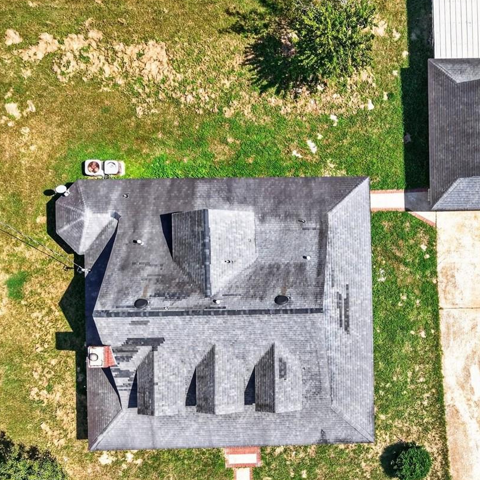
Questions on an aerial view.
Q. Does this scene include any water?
No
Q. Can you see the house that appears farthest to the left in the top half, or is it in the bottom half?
bottom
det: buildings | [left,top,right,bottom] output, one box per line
[55,176,375,451]
[428,57,480,211]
